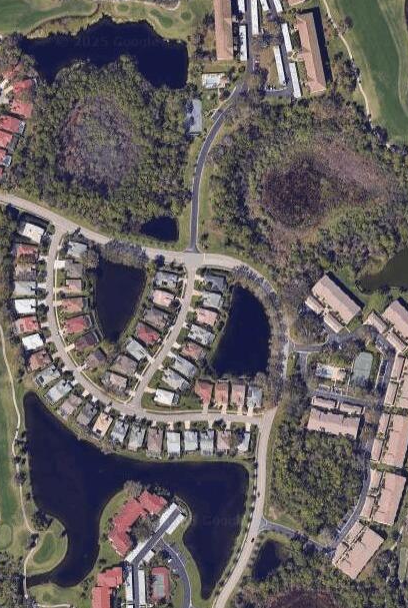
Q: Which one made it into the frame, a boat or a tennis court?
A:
tennis court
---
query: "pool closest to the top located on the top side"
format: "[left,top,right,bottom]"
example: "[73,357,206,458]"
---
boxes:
[200,72,222,88]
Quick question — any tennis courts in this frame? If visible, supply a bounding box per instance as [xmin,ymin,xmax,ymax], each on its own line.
[188,99,202,135]
[354,351,374,384]
[151,568,169,599]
